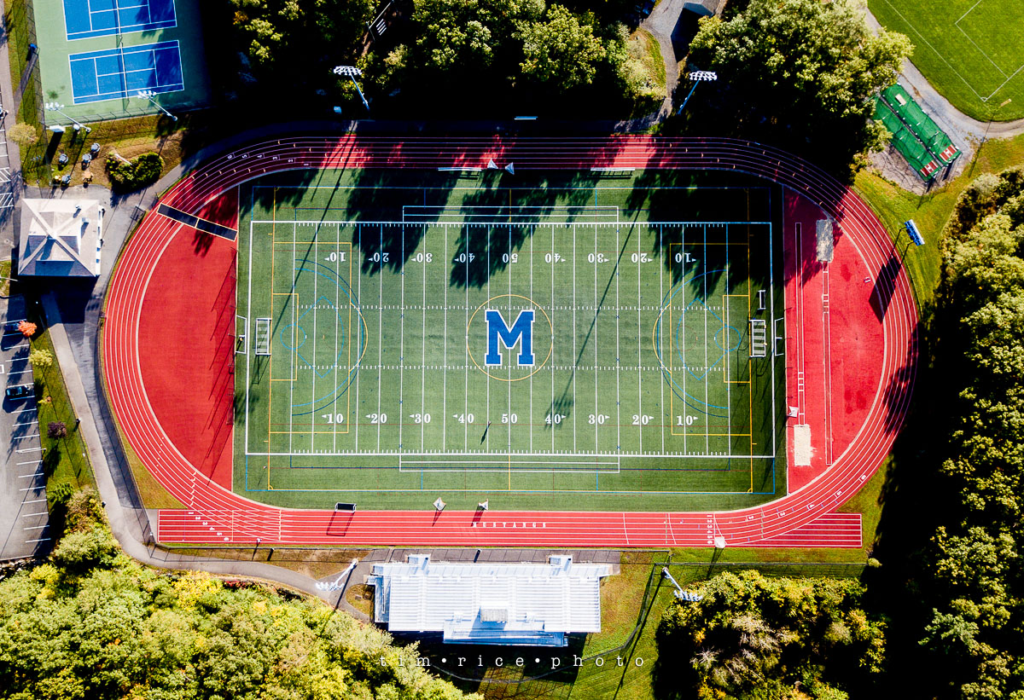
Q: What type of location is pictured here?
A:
sports ground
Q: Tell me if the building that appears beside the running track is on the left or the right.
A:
left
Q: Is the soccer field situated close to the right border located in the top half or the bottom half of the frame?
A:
top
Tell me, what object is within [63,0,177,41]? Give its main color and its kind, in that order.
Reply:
blue tennis court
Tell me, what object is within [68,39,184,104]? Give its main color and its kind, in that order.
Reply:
blue tennis court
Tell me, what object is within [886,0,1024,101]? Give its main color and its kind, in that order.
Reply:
green soccer field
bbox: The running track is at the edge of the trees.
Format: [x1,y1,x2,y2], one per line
[102,131,924,553]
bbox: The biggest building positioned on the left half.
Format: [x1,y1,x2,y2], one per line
[18,198,102,276]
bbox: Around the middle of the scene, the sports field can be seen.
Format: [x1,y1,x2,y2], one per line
[230,170,788,510]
